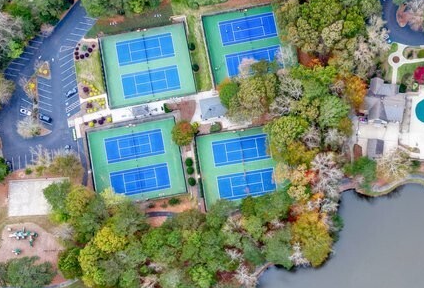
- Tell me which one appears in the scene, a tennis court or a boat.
tennis court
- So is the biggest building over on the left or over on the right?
right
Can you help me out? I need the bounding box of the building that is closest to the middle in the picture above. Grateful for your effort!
[199,98,227,121]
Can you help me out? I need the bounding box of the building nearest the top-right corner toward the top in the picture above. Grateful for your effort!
[366,76,407,126]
